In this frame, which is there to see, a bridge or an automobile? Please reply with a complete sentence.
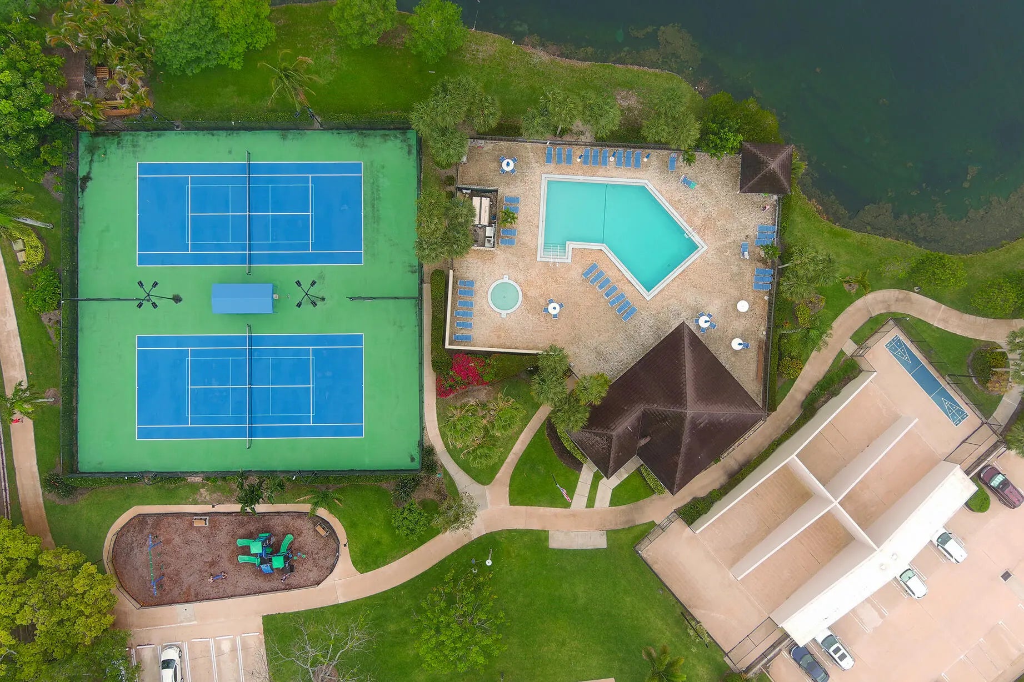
The image shows an automobile.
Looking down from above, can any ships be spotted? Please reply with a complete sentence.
No, no ship can be seen from above.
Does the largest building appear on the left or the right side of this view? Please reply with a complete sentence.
The largest building is on the right side of the image.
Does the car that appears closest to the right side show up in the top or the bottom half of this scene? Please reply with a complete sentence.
It is in the bottom half that the car that appears closest to the right side appears.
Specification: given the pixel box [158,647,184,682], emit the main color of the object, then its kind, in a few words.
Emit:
white car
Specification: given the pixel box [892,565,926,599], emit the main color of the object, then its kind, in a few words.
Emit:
white car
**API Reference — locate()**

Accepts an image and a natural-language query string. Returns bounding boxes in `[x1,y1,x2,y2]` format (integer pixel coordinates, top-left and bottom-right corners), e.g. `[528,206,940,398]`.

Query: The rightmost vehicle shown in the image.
[979,464,1024,509]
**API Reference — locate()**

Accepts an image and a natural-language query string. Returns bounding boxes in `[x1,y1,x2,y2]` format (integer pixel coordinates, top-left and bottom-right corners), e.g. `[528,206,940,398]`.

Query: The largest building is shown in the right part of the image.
[565,321,768,496]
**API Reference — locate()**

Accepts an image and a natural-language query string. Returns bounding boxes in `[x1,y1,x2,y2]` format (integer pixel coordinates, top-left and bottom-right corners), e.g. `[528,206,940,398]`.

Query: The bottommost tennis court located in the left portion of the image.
[77,300,422,472]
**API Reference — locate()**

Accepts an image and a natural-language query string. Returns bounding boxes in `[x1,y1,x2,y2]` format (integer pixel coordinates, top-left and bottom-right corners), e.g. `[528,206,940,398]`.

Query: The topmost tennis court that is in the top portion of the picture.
[77,130,421,300]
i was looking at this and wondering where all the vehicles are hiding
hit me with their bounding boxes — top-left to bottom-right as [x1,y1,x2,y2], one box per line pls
[813,628,855,671]
[979,464,1024,509]
[892,565,926,599]
[158,647,184,682]
[929,526,967,564]
[792,644,833,682]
